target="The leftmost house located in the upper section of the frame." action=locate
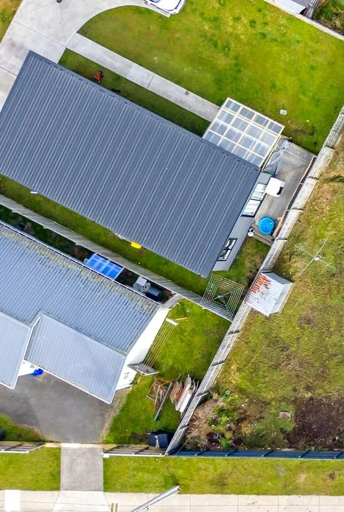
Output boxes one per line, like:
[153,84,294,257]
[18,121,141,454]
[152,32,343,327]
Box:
[0,48,269,278]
